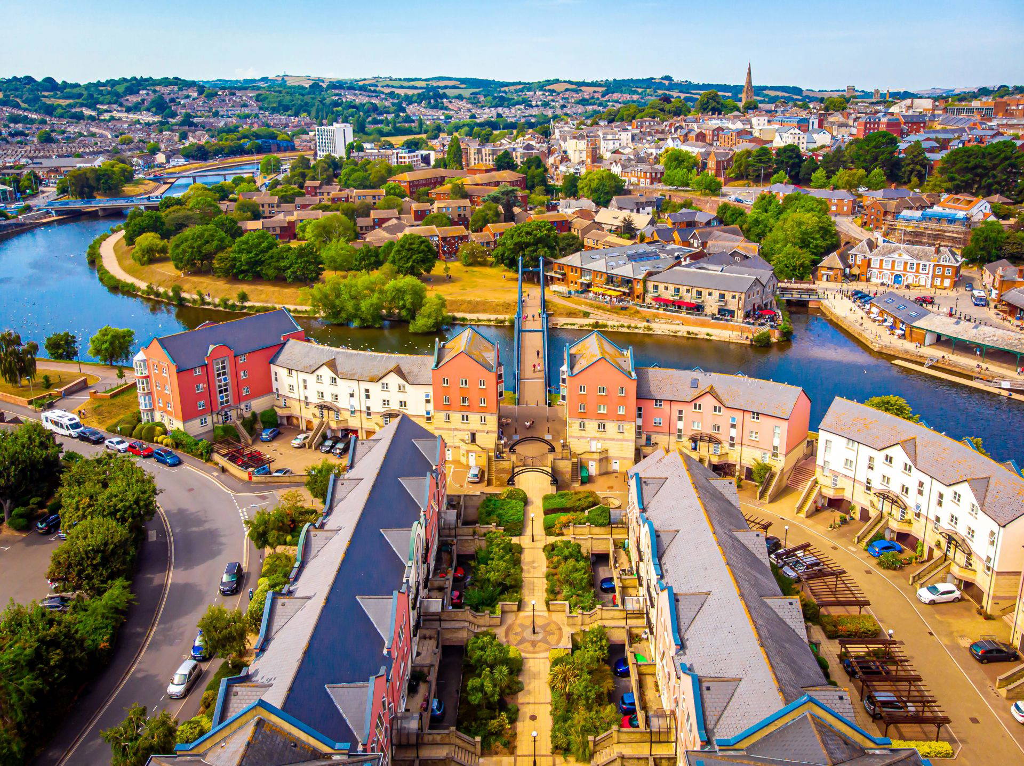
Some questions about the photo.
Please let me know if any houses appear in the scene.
Yes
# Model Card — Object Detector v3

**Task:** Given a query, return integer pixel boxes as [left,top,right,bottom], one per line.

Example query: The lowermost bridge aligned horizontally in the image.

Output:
[784,281,835,299]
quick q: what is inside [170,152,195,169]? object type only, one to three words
house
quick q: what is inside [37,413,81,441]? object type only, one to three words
camper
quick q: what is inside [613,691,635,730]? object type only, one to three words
car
